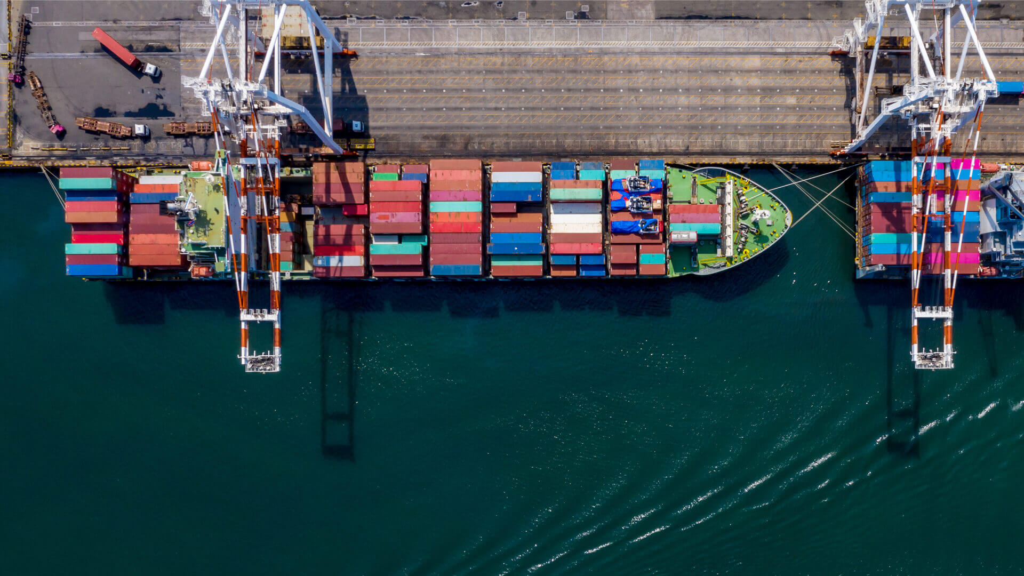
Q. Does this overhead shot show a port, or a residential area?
port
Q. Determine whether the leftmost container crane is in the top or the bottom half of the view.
top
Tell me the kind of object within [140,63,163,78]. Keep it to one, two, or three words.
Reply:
vehicle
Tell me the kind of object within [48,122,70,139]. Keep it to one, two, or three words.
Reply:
vehicle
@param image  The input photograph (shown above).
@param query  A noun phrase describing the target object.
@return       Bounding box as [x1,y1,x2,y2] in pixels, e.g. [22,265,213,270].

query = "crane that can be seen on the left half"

[180,0,359,373]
